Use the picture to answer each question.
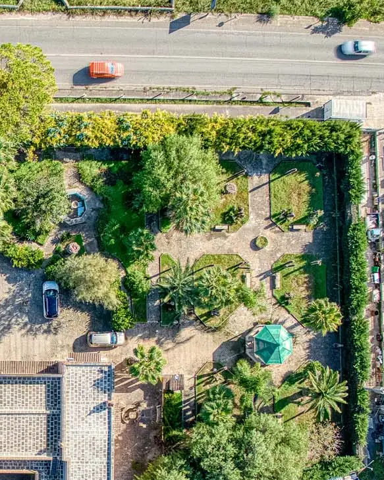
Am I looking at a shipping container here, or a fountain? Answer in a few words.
fountain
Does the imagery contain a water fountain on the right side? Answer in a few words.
No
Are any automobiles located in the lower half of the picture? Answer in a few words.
Yes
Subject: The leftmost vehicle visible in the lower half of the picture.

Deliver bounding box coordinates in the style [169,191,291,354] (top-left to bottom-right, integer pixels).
[41,281,60,318]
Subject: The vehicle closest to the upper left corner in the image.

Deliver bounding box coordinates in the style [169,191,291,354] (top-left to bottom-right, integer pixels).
[86,60,122,82]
